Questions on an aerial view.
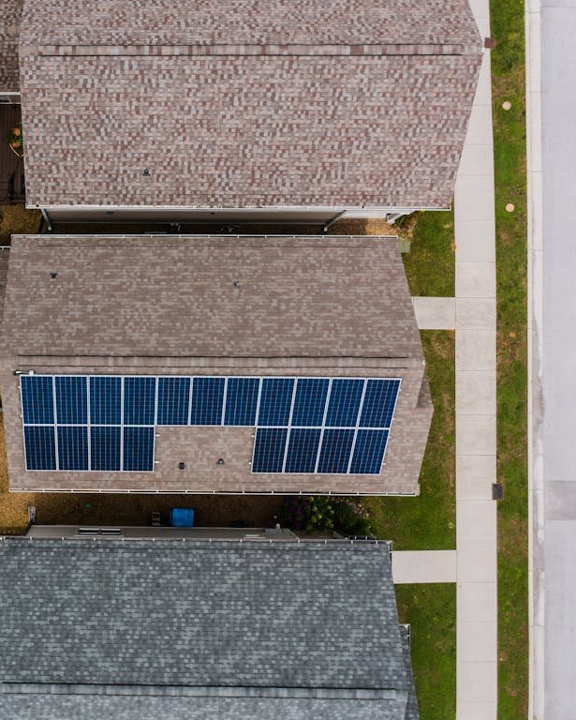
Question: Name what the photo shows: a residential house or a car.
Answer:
residential house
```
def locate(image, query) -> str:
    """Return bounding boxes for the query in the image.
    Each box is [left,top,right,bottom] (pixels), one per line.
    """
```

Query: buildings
[0,520,420,720]
[19,0,485,234]
[0,233,434,494]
